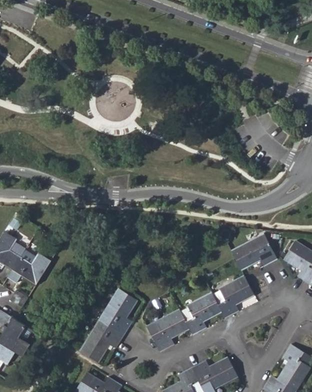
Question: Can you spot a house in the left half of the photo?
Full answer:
Yes, I can see a house in the left half of the photo.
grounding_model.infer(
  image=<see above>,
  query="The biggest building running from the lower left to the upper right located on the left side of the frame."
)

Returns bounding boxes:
[80,288,138,364]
